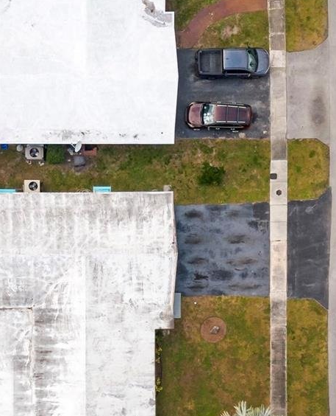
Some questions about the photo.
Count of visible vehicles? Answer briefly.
2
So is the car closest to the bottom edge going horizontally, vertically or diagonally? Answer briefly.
horizontally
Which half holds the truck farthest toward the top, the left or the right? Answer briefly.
right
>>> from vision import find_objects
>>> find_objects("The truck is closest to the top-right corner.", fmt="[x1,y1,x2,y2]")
[193,44,269,81]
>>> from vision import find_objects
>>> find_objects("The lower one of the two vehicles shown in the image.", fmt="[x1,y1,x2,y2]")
[185,98,252,133]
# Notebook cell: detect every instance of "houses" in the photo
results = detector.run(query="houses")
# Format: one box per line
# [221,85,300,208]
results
[0,186,182,416]
[0,0,180,145]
